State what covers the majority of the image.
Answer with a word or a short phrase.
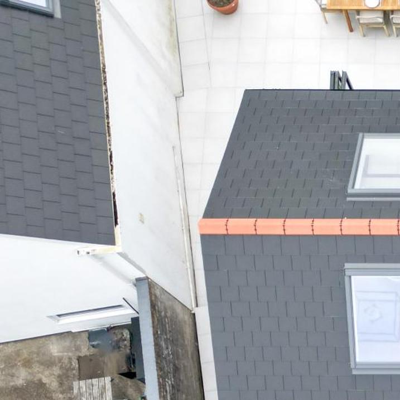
buildings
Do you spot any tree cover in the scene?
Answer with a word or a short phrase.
No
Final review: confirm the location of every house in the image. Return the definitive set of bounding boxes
[0,0,196,343]
[194,70,400,400]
